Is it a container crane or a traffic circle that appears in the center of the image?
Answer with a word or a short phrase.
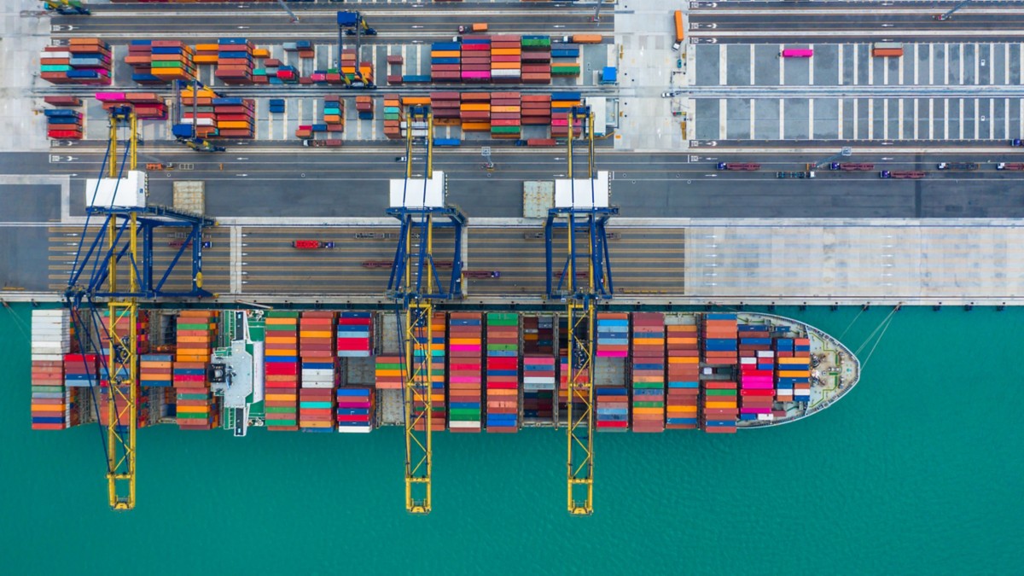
container crane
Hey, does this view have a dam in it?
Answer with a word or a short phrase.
No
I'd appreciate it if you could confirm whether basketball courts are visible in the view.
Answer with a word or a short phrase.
No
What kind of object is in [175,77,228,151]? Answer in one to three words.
crane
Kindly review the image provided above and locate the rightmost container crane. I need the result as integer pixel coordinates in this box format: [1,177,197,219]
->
[541,102,619,517]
